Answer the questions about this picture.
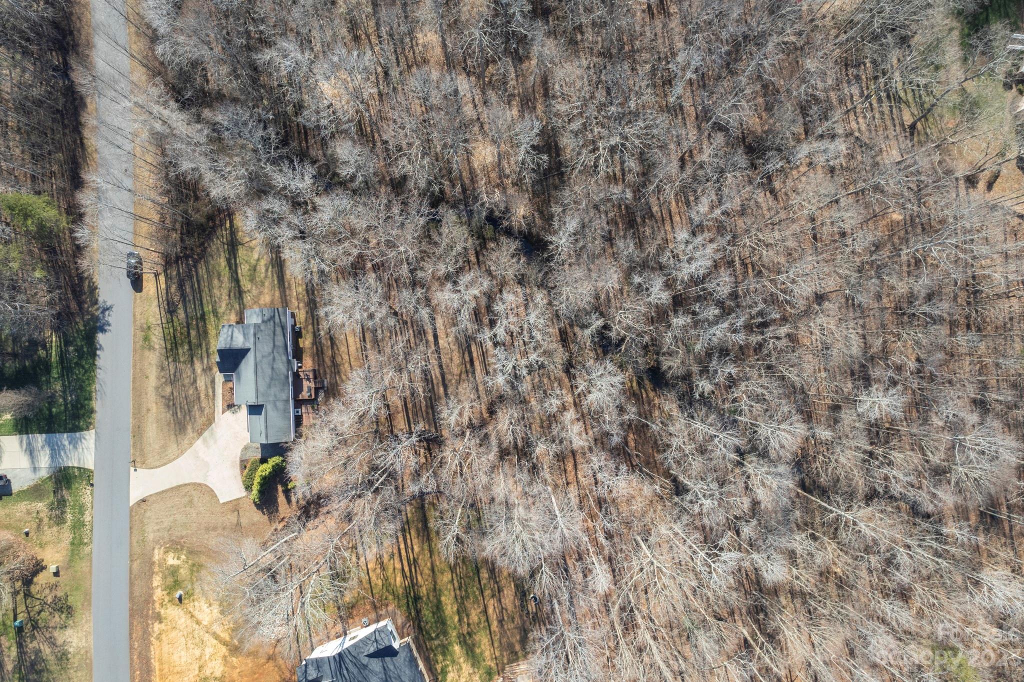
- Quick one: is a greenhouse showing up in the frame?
No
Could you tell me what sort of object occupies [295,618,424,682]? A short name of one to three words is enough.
house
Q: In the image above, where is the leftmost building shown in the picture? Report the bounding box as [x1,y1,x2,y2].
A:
[213,307,301,444]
